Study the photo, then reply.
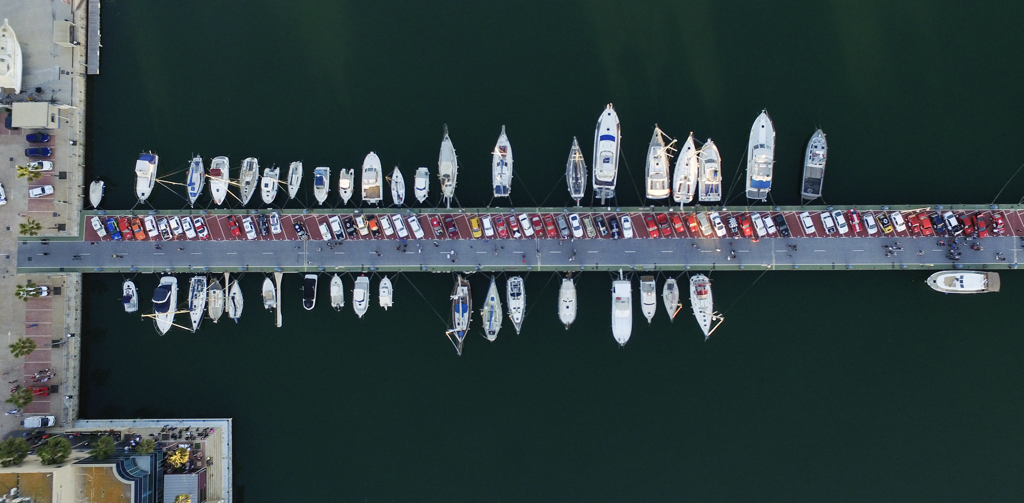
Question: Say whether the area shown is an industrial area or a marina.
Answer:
marina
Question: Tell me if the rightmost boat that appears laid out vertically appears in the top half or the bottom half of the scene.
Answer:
top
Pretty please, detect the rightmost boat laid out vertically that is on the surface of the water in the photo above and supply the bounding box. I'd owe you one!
[801,129,829,204]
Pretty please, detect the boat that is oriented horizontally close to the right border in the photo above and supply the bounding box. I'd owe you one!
[926,270,1007,294]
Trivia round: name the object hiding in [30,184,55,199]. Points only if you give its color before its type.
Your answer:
white car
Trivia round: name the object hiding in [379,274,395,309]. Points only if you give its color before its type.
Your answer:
white boat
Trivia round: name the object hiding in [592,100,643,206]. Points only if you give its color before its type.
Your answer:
white boat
